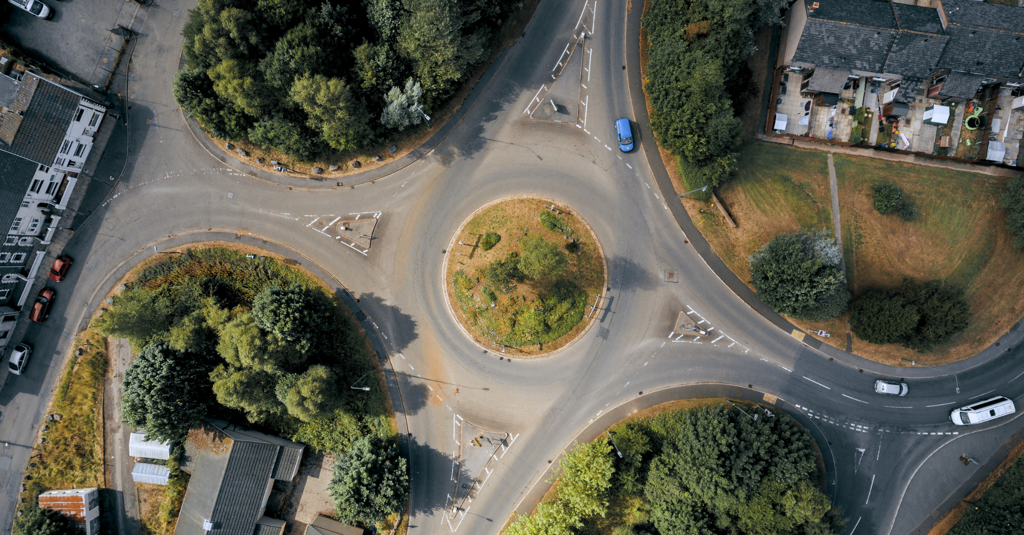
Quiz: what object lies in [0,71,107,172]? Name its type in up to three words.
house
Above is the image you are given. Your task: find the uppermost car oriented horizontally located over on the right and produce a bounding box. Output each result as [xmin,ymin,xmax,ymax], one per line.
[873,380,907,397]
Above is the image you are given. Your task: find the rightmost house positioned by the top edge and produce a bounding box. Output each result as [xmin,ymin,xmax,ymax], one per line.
[979,2,1024,114]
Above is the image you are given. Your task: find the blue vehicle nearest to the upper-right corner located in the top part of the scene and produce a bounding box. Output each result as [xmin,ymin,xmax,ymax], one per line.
[618,116,638,152]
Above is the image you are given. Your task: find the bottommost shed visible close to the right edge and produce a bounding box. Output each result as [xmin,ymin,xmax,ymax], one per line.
[977,140,1007,164]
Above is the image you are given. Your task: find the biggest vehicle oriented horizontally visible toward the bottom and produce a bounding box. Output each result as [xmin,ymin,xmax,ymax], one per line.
[949,399,1018,426]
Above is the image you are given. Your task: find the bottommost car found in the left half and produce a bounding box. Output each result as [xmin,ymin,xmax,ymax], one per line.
[7,342,34,375]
